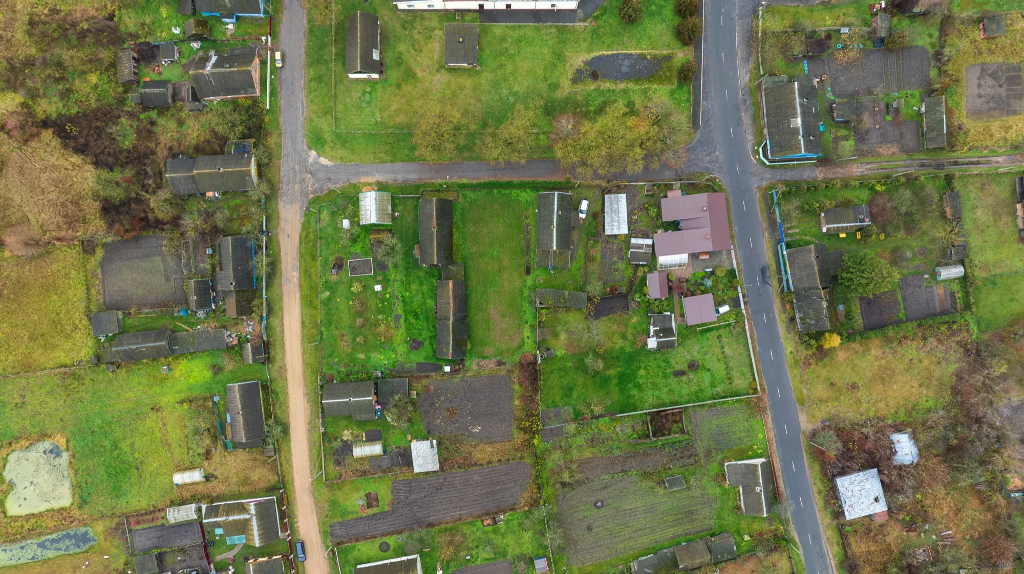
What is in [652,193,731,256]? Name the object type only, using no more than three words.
house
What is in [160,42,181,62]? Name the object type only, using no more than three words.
shed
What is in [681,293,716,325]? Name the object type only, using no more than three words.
building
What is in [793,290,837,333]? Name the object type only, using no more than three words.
barn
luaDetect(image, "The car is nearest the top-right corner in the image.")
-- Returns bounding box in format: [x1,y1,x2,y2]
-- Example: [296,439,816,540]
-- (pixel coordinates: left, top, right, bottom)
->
[758,265,770,283]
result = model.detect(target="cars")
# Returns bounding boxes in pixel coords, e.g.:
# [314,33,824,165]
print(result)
[579,199,588,218]
[297,541,306,561]
[276,51,284,68]
[715,304,731,315]
[758,265,770,283]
